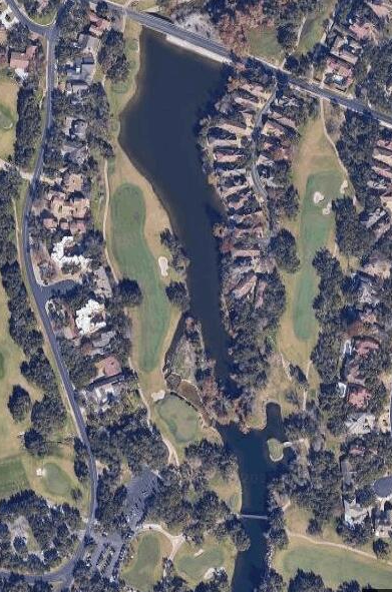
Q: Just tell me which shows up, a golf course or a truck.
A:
golf course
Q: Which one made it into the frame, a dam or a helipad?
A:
dam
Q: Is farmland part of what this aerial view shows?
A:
No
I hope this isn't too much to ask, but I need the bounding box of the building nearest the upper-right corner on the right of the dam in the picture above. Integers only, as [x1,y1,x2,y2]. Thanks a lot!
[370,0,392,23]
